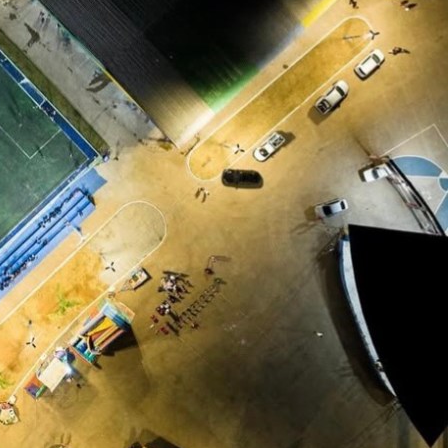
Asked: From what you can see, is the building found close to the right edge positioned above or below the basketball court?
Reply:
below it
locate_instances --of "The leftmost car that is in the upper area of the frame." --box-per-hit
[223,168,267,190]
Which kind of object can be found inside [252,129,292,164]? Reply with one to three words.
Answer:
vehicle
